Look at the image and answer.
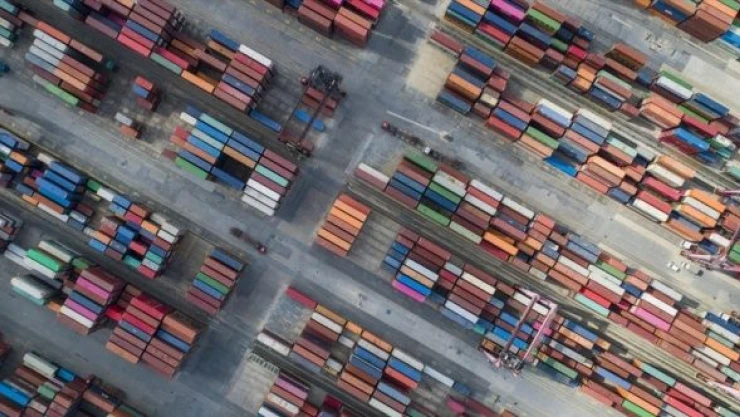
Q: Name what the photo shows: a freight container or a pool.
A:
freight container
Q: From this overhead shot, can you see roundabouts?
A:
No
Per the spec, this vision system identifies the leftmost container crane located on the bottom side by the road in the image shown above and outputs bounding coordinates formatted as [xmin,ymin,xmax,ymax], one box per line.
[486,283,561,377]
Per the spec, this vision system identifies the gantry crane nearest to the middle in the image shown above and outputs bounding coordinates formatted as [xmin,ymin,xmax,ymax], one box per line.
[278,58,348,156]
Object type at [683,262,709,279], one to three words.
vehicle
